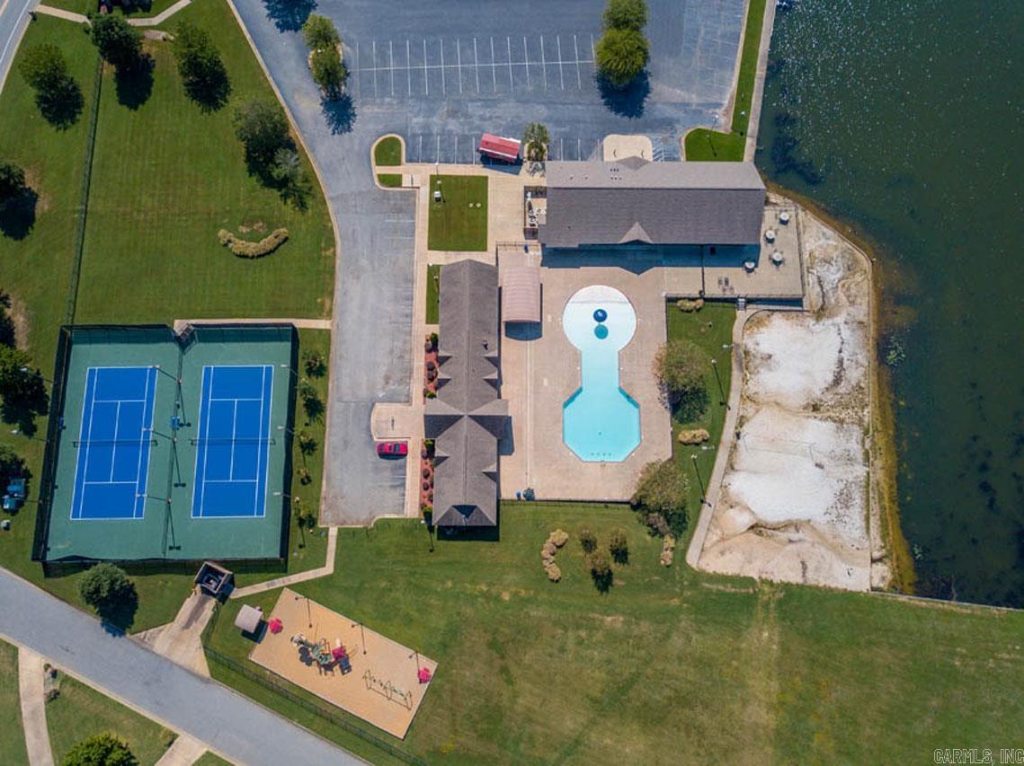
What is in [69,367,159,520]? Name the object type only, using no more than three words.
tennis court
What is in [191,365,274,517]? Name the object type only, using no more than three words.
tennis court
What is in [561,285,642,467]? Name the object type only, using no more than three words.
swimming pool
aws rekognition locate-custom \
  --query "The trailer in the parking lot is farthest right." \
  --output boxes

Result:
[476,133,520,161]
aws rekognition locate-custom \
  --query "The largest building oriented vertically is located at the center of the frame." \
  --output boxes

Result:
[424,259,508,533]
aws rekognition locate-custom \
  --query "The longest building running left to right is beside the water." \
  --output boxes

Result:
[538,155,766,249]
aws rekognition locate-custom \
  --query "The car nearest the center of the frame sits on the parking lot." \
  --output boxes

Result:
[377,442,408,456]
